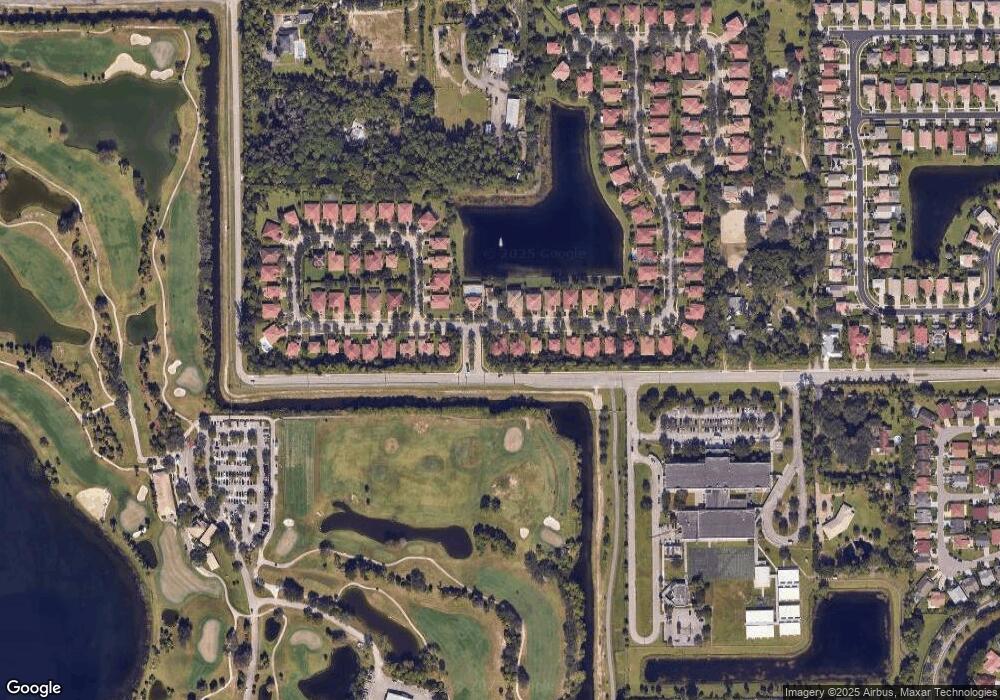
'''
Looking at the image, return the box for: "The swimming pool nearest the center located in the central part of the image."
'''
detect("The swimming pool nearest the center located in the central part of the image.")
[465,285,482,298]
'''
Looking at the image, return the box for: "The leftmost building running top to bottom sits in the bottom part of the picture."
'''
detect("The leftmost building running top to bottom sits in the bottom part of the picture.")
[150,472,177,521]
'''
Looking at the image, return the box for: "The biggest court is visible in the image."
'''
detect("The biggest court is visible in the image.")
[688,548,754,579]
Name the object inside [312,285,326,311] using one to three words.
house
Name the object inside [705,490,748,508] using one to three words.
building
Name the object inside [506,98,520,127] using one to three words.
shed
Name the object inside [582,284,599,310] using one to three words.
house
